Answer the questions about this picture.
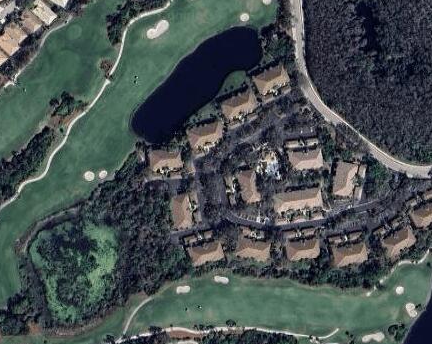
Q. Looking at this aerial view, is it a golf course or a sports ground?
golf course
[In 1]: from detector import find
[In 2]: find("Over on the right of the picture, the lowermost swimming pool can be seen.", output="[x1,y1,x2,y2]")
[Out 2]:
[262,151,280,179]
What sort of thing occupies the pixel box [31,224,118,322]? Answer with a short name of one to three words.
pond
